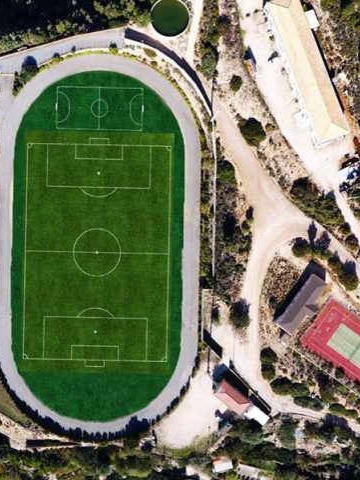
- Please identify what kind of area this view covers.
sports ground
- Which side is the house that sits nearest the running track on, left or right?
right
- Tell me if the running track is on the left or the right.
left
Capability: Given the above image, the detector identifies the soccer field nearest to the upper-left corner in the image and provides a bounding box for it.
[54,84,145,132]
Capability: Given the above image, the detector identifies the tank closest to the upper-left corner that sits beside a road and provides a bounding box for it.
[150,0,190,37]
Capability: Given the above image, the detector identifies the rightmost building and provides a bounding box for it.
[336,160,360,185]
